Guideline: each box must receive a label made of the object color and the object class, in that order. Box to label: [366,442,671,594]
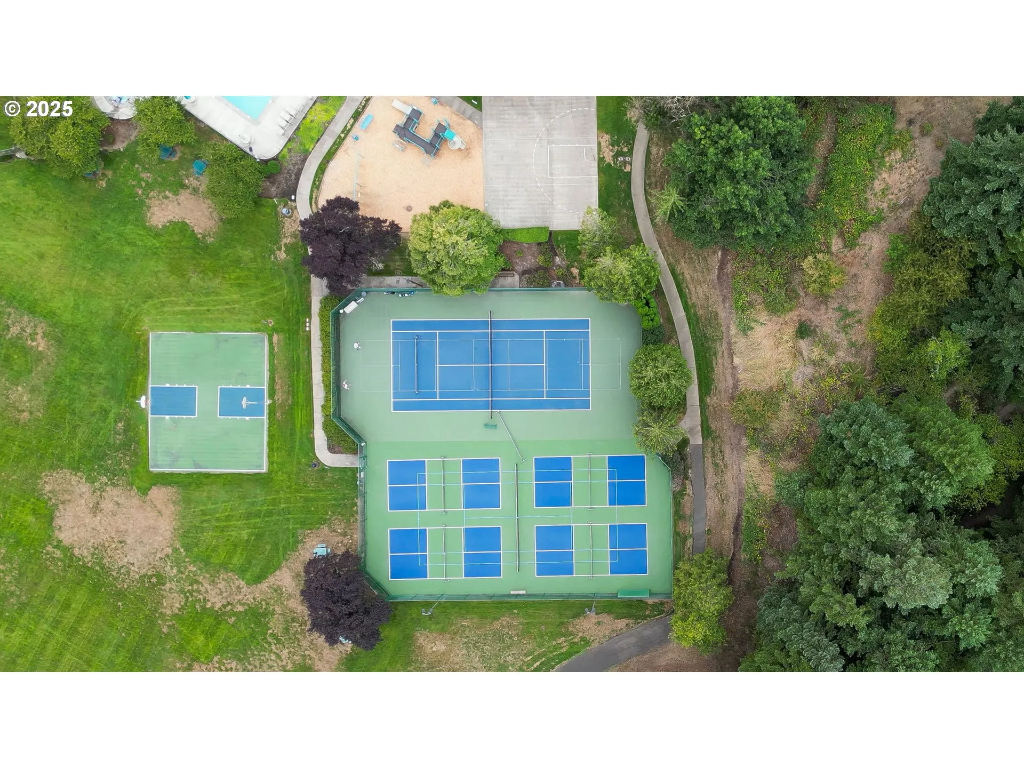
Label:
green tennis court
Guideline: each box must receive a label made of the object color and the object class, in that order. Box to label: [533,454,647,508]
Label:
blue sports court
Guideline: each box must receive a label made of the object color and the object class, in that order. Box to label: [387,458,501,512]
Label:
blue sports court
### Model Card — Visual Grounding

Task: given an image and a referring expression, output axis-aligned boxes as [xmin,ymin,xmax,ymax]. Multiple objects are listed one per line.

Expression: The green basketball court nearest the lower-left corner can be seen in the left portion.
[148,332,269,474]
